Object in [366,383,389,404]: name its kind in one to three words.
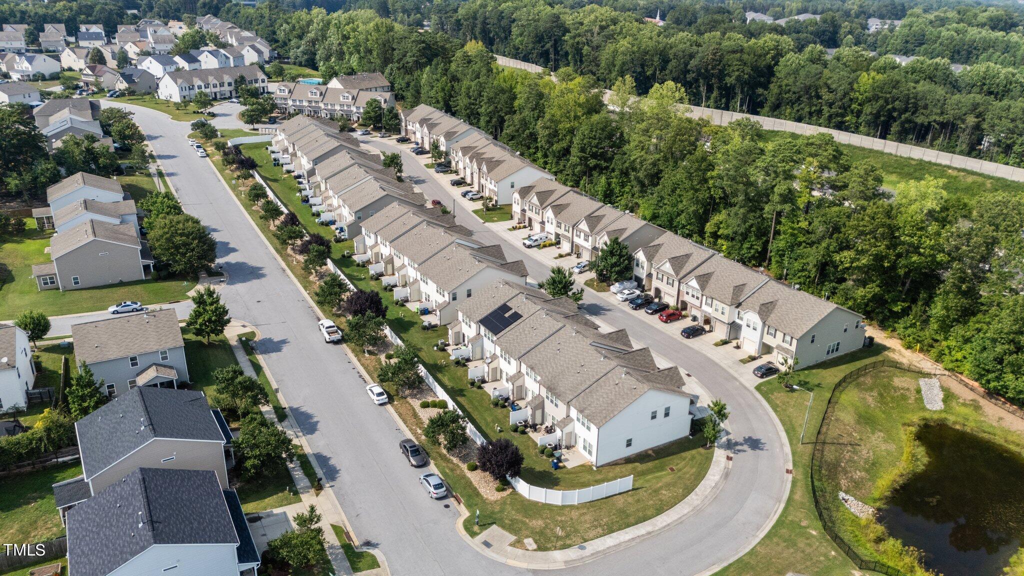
car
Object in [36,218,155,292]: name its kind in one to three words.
house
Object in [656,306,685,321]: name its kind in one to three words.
car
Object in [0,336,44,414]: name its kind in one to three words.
house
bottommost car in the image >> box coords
[419,470,448,499]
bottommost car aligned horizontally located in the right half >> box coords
[750,360,782,375]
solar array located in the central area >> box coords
[479,299,523,333]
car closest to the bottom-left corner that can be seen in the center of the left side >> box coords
[108,300,140,312]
